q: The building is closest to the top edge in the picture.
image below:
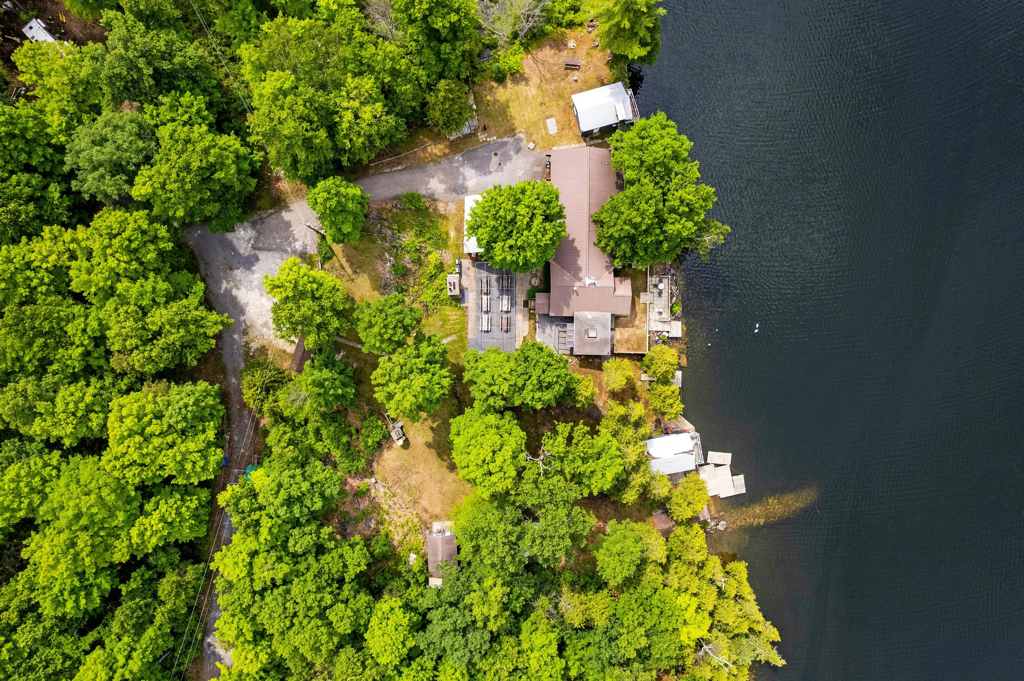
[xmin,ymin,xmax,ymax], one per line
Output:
[571,81,632,135]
